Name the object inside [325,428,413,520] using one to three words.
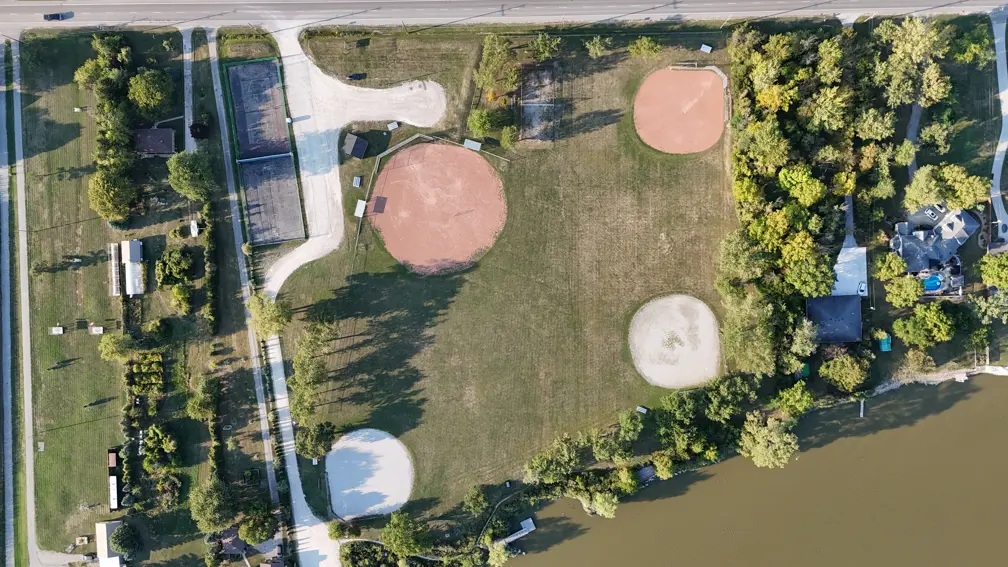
baseball field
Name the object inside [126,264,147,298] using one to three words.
greenhouse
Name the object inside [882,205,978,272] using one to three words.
house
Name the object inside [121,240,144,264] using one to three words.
building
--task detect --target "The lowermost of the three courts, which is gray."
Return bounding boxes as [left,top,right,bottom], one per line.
[239,156,304,244]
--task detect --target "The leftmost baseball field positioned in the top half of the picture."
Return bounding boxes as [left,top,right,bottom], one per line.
[369,142,507,276]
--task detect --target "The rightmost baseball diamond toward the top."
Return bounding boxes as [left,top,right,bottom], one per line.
[634,69,725,155]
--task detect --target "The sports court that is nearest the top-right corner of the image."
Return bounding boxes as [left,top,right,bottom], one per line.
[520,61,556,144]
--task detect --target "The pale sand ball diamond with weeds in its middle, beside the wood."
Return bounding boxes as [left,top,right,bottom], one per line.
[629,293,721,389]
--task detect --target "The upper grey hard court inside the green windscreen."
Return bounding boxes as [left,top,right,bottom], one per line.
[229,61,291,158]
